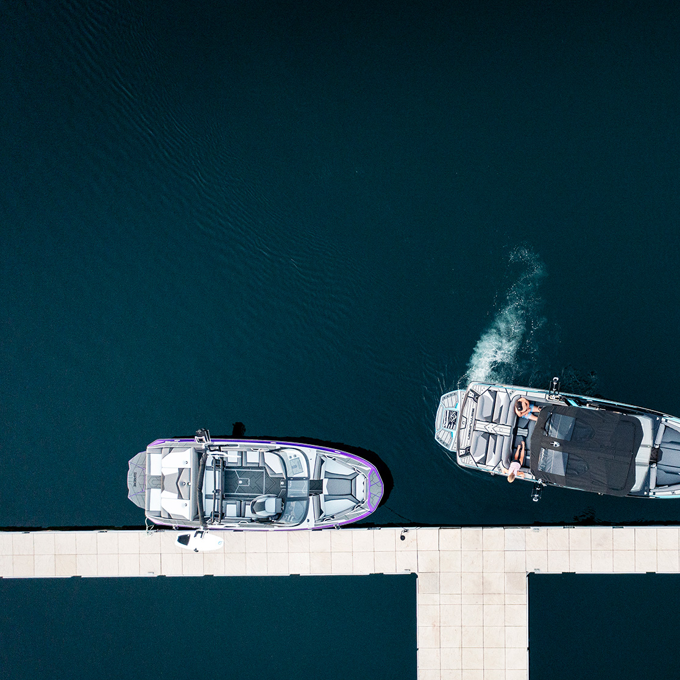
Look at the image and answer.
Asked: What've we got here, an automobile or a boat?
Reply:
boat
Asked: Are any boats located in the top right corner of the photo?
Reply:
No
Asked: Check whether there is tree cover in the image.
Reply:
No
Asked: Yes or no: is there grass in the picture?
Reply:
No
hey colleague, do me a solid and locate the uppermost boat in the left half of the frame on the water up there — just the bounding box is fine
[127,429,385,537]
